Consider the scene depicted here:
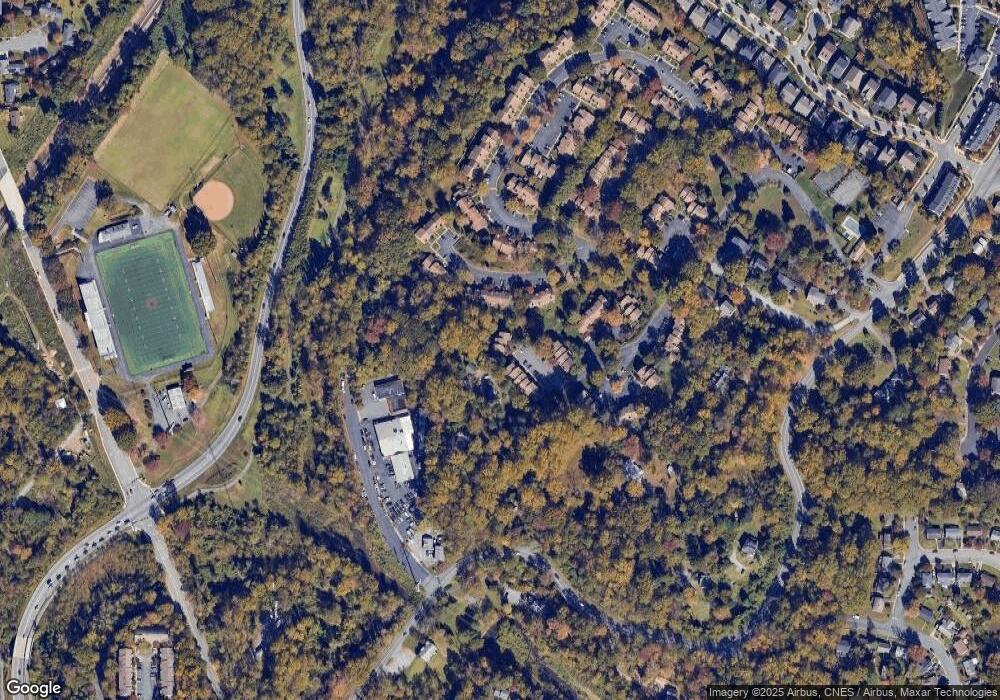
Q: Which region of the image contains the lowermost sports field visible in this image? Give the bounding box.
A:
[97,231,207,375]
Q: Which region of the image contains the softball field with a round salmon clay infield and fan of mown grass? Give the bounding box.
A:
[190,146,265,245]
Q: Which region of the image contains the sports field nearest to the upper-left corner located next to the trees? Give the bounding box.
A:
[94,53,234,211]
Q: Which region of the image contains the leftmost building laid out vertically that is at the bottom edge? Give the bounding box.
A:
[118,648,132,698]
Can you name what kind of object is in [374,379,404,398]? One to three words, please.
building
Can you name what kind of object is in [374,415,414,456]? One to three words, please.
building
